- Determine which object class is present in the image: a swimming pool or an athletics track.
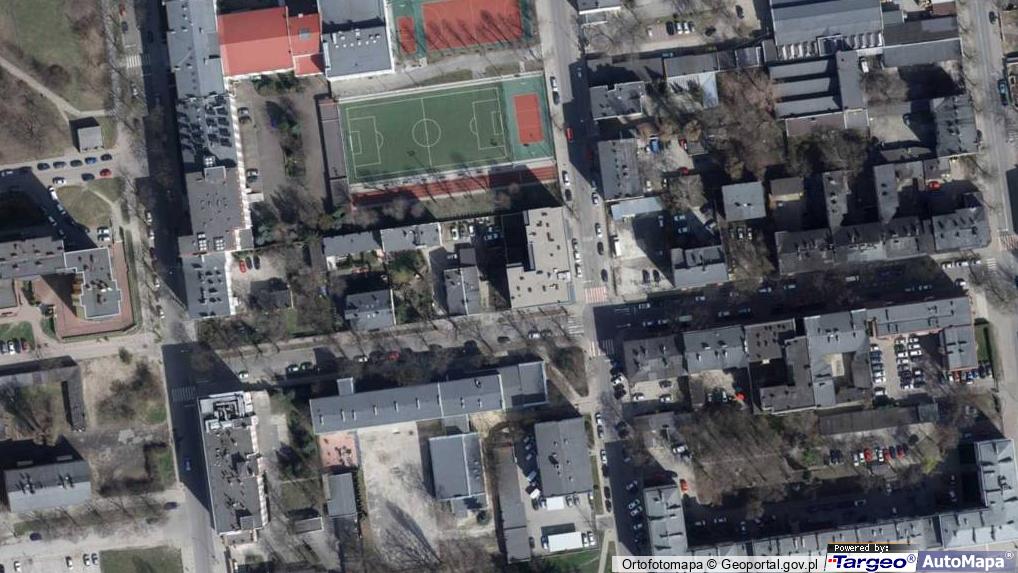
athletics track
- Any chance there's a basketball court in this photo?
Yes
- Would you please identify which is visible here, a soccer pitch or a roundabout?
soccer pitch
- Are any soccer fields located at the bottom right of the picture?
No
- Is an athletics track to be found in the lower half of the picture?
No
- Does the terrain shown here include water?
No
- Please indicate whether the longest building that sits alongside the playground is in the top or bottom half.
bottom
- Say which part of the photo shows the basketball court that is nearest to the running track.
top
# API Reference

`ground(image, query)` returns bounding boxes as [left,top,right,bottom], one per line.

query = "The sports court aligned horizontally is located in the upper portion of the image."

[390,0,534,60]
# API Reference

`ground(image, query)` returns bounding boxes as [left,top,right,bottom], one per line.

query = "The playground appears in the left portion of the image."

[319,431,358,469]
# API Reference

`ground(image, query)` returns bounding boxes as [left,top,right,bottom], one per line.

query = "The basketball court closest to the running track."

[502,75,550,161]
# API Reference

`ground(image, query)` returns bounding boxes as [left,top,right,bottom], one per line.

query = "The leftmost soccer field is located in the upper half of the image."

[340,81,517,185]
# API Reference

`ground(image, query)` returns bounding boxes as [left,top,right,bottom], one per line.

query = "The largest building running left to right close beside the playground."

[310,362,549,436]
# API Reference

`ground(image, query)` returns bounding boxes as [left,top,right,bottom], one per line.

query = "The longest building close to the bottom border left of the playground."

[198,391,270,546]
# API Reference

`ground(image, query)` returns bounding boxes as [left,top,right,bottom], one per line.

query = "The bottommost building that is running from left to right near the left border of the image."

[5,461,92,511]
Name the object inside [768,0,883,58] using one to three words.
building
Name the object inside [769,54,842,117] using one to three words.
shed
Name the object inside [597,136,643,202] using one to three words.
house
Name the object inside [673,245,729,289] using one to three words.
house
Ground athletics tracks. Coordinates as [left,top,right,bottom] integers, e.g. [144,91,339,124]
[349,157,554,207]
